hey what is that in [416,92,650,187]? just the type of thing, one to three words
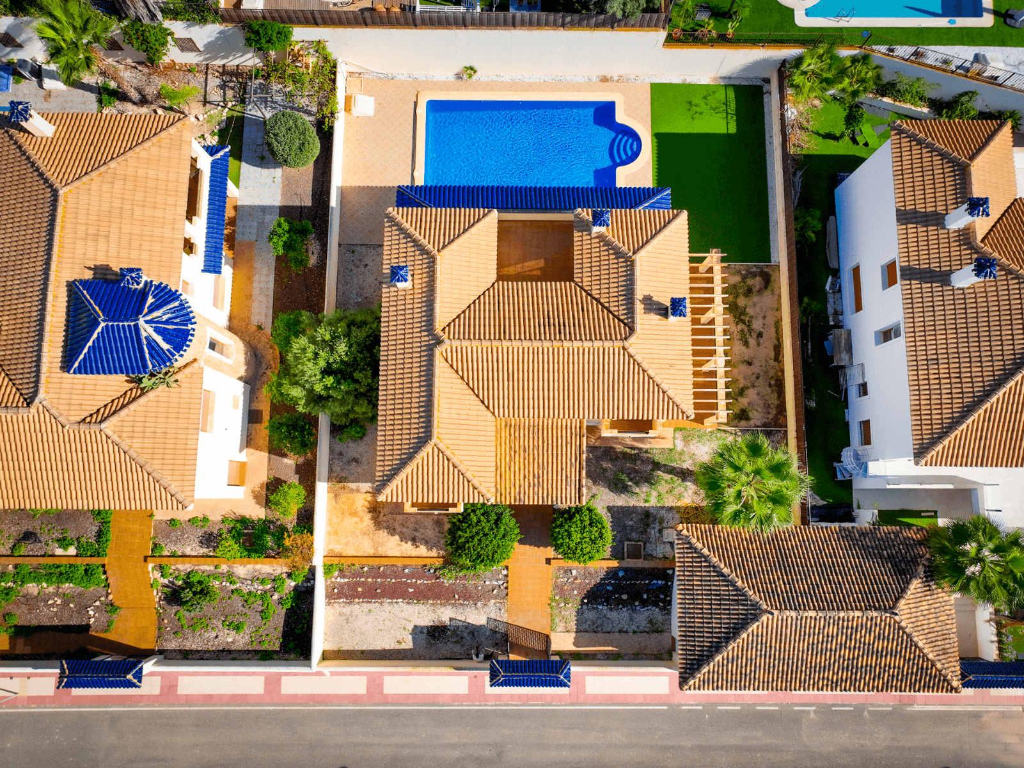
swimming pool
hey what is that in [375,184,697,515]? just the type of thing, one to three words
house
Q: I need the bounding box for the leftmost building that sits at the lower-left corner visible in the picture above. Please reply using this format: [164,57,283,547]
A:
[54,658,163,690]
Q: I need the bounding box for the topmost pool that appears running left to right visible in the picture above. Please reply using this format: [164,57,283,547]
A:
[769,0,990,30]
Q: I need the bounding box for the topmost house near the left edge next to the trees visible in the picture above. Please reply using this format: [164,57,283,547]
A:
[0,98,263,511]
